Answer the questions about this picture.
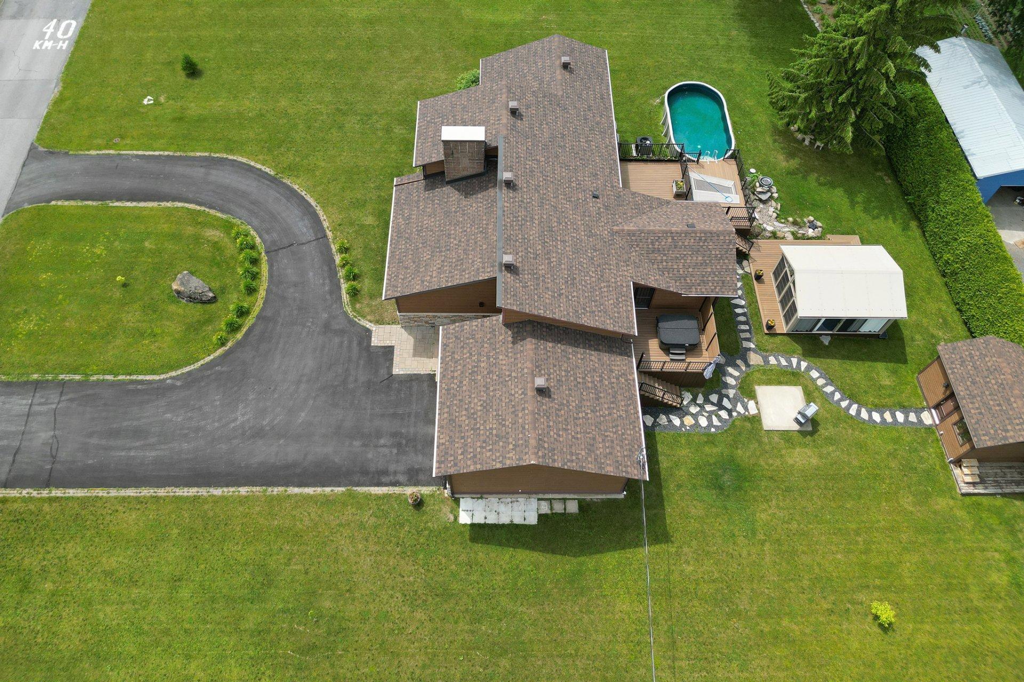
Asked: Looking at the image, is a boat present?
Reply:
No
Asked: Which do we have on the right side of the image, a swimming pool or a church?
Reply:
swimming pool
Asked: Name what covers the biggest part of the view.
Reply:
grass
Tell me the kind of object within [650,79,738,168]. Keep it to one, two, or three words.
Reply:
swimming pool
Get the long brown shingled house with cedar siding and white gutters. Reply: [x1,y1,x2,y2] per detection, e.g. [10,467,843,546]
[382,35,740,504]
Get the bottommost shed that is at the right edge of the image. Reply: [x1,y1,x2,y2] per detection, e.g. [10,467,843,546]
[920,337,1024,465]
